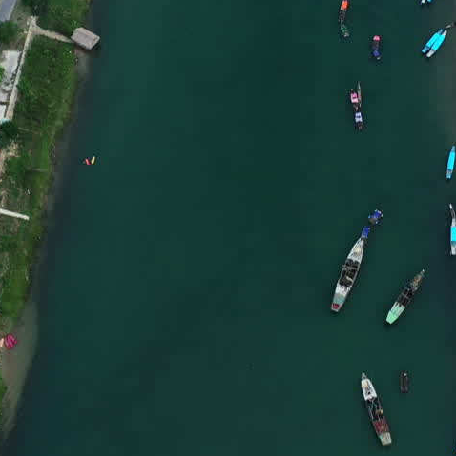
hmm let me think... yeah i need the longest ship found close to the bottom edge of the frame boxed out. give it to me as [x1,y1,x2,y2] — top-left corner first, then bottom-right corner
[363,371,392,446]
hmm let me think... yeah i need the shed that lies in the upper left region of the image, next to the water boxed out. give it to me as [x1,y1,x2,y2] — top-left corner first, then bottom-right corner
[70,27,102,55]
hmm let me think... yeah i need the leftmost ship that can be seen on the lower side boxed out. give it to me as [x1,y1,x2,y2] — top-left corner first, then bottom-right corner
[330,236,364,313]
